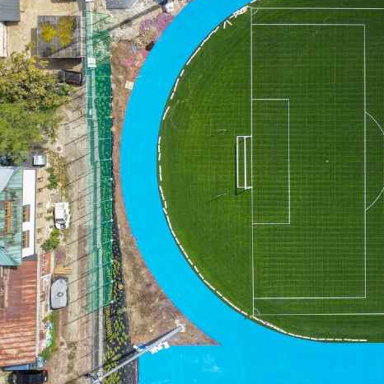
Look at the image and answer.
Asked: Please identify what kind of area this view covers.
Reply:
sports ground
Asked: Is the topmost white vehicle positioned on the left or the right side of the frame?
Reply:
left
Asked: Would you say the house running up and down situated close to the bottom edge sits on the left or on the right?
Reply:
left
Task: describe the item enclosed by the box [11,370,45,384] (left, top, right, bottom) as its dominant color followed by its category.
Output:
black car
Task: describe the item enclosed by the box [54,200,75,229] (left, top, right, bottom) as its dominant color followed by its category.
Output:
white vehicle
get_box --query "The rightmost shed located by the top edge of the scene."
[38,8,87,56]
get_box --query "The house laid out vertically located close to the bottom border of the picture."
[0,263,45,366]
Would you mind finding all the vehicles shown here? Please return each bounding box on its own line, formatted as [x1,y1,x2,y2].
[11,370,45,384]
[58,69,89,84]
[54,200,75,229]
